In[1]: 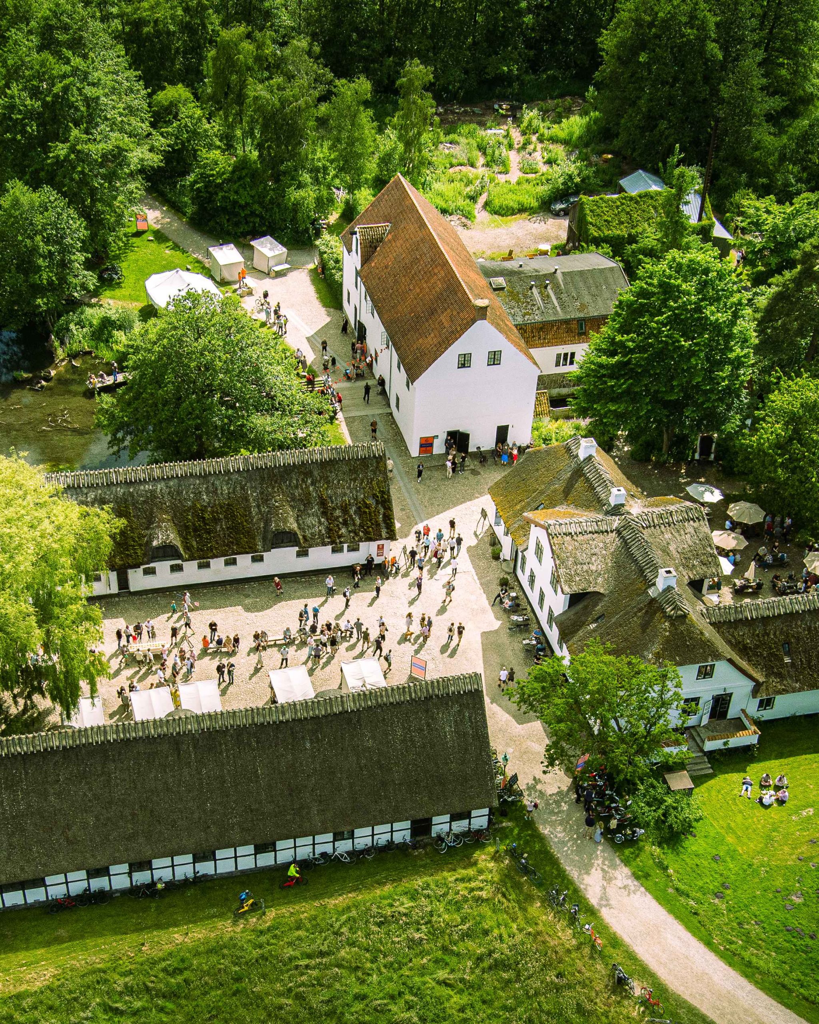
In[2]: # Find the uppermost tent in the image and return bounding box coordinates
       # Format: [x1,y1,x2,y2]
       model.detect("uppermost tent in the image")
[141,273,233,323]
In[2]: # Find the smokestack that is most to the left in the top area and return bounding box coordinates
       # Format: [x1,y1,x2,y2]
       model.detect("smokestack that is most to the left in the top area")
[473,288,492,322]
